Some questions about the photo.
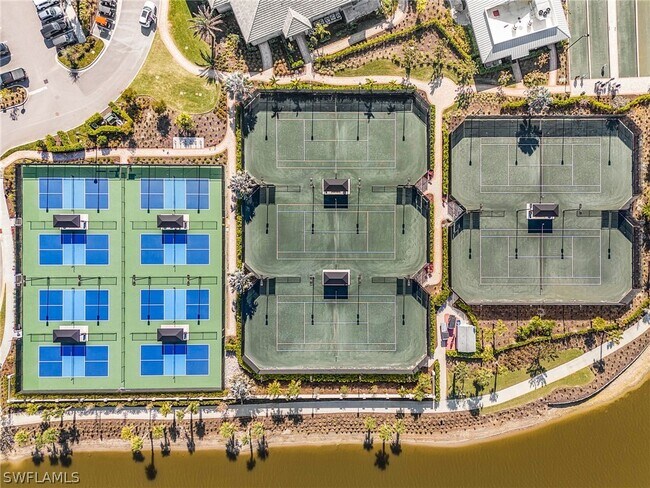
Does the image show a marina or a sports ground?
sports ground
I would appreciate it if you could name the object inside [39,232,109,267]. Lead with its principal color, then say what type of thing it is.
blue sports court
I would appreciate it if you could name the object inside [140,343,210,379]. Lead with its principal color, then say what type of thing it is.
blue sports court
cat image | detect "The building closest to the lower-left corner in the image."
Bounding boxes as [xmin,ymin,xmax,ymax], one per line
[53,327,88,343]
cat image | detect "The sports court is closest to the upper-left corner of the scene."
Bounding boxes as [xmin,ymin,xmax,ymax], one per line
[39,175,109,211]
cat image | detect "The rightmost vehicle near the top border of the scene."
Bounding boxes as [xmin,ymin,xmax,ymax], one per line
[139,2,156,28]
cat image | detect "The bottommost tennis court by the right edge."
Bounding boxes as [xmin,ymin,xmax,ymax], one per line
[451,211,632,303]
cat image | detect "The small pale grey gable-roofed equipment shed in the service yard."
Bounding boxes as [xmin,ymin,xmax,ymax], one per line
[455,325,476,352]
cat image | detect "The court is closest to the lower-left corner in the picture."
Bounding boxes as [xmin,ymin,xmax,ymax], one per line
[39,343,109,379]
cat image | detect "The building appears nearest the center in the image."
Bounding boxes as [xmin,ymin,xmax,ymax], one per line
[322,270,350,286]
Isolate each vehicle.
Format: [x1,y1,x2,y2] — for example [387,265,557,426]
[95,16,117,30]
[439,322,448,340]
[38,6,65,22]
[0,69,29,87]
[51,33,78,48]
[0,44,12,56]
[139,2,156,28]
[34,0,61,10]
[446,314,456,328]
[40,20,69,36]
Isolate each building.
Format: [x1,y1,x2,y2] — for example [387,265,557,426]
[157,327,189,343]
[157,214,189,229]
[211,0,380,45]
[322,270,350,286]
[322,179,350,195]
[53,327,88,343]
[527,203,559,219]
[53,214,88,229]
[461,0,571,65]
[455,325,476,352]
